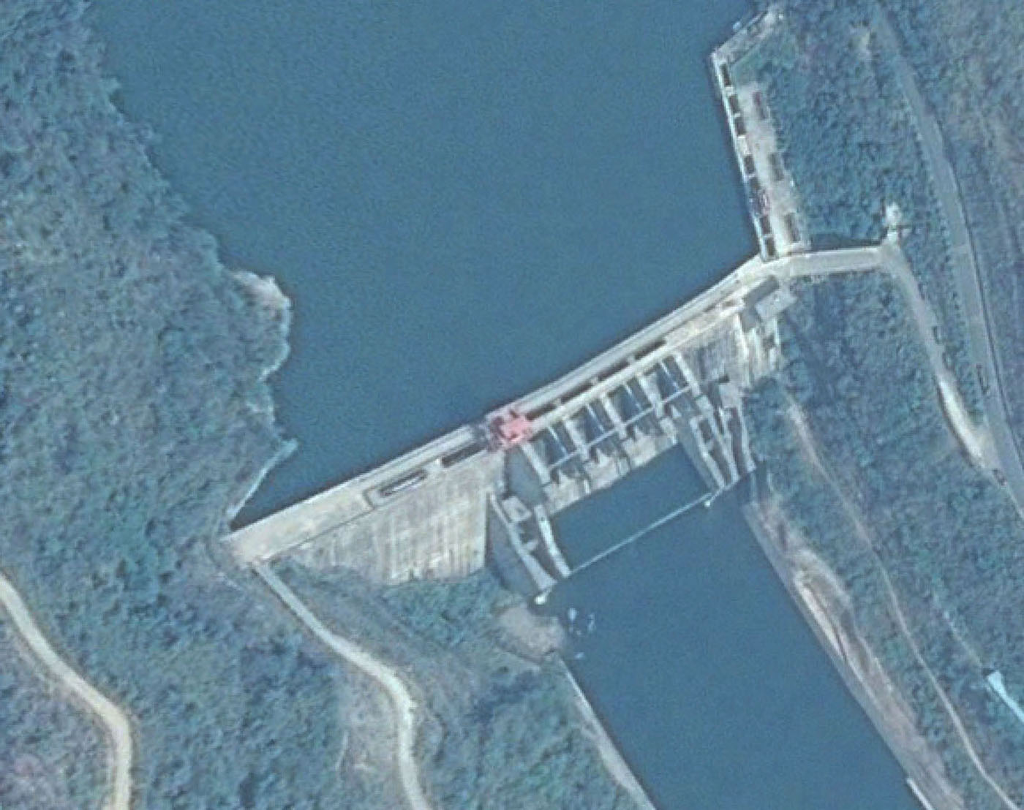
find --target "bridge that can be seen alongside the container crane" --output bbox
[532,312,746,442]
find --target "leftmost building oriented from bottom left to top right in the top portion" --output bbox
[744,282,800,331]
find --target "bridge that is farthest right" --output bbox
[765,246,882,277]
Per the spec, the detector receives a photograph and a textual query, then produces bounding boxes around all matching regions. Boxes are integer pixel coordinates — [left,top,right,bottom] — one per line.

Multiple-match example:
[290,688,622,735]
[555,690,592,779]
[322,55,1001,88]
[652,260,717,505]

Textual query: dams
[233,256,783,605]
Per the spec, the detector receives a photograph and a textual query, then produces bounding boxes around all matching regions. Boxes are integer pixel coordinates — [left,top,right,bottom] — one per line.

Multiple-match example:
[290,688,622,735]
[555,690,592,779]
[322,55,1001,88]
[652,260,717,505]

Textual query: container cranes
[486,404,538,455]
